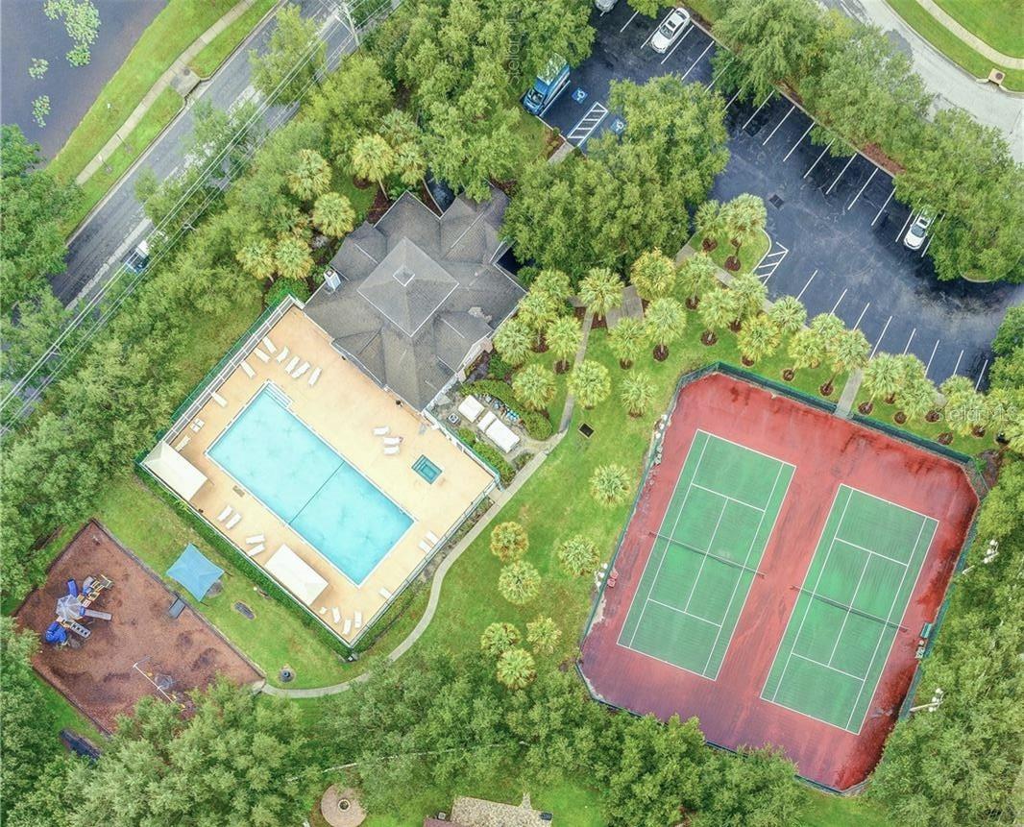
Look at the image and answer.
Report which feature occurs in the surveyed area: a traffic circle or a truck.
truck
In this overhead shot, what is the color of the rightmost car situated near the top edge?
white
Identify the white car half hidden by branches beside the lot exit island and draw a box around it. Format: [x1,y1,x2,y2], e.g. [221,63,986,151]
[908,202,942,247]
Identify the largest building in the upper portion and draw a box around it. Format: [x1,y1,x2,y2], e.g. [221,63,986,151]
[304,189,526,419]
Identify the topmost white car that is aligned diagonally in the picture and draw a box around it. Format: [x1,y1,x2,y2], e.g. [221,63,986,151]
[655,1,692,49]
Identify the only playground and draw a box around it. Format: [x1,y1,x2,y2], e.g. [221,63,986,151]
[21,524,258,734]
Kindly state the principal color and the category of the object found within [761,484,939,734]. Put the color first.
green tennis court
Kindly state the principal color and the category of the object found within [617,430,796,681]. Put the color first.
green tennis court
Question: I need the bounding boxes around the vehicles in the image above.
[121,235,158,276]
[596,0,618,13]
[524,50,571,122]
[655,1,692,49]
[908,202,942,247]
